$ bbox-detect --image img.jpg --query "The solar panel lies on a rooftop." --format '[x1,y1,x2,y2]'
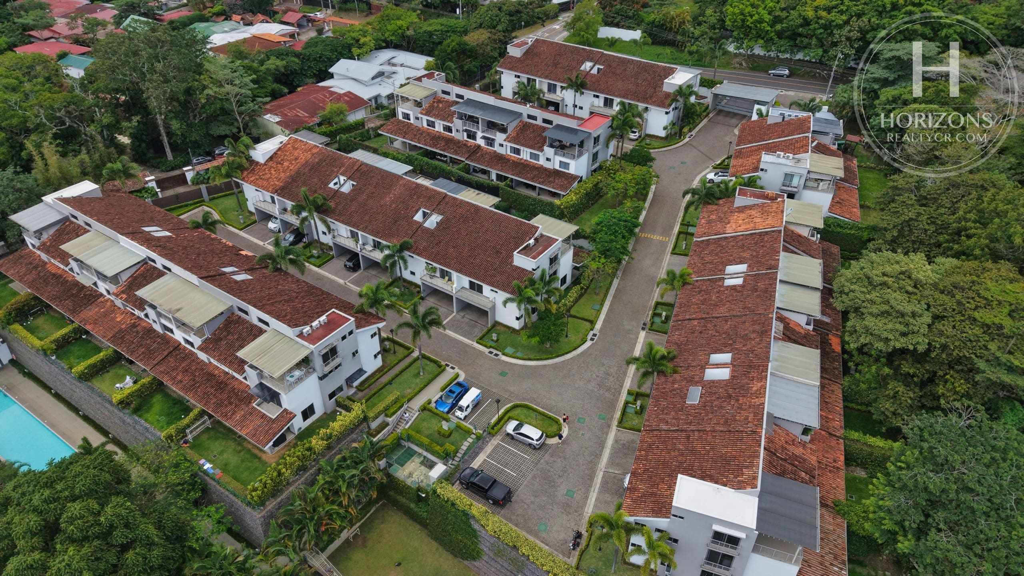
[686,383,701,400]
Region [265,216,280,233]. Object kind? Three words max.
car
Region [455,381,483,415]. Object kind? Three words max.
truck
